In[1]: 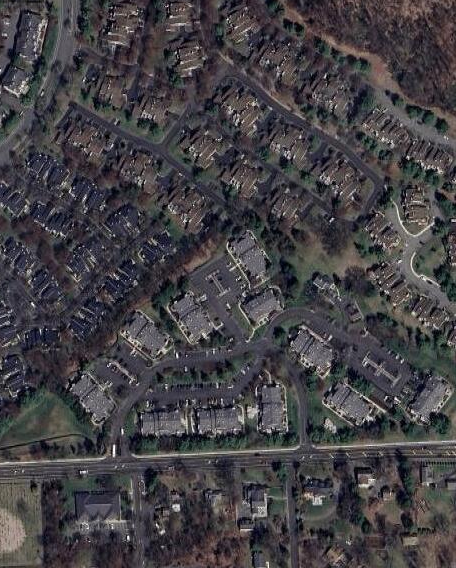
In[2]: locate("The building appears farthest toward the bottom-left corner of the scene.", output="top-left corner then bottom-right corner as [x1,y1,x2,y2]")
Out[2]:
[74,492,120,524]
